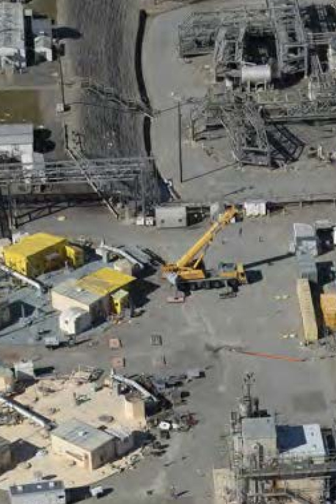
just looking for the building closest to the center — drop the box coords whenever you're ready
[155,205,188,228]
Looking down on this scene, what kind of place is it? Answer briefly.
industrial area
